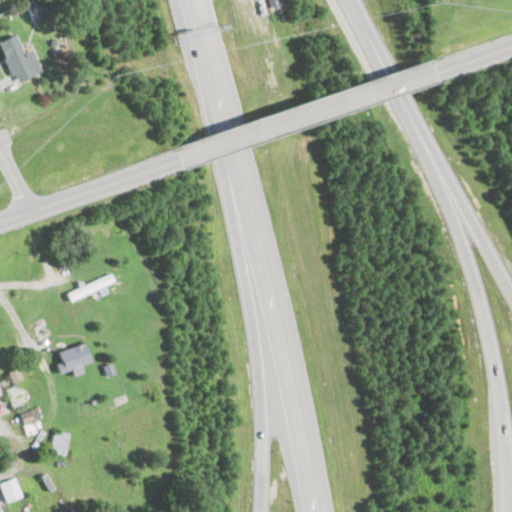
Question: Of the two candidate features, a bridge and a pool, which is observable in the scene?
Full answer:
Of the two, only a bridge appears.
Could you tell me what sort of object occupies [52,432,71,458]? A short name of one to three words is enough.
building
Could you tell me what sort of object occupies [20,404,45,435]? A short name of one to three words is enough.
house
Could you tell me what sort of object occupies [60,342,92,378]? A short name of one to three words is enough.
house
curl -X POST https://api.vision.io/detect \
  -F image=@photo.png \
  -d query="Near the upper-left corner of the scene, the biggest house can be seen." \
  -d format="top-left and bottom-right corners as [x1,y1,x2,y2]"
[0,36,46,84]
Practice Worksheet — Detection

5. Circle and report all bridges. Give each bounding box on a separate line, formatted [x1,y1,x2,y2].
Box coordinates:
[170,58,448,176]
